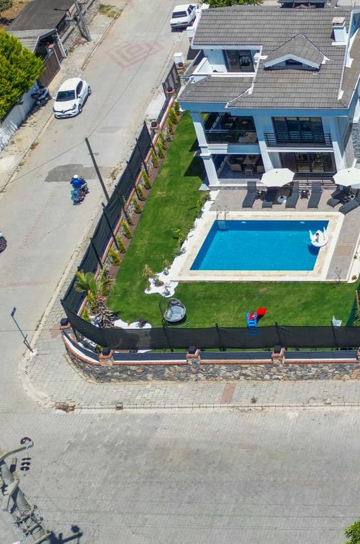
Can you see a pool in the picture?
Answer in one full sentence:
Yes, I can see a pool in this picture.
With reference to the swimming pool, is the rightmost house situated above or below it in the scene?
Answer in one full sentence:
In the image, the rightmost house sits above the swimming pool.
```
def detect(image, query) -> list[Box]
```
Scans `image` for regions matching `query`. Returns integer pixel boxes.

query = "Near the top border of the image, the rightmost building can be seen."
[173,2,360,188]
